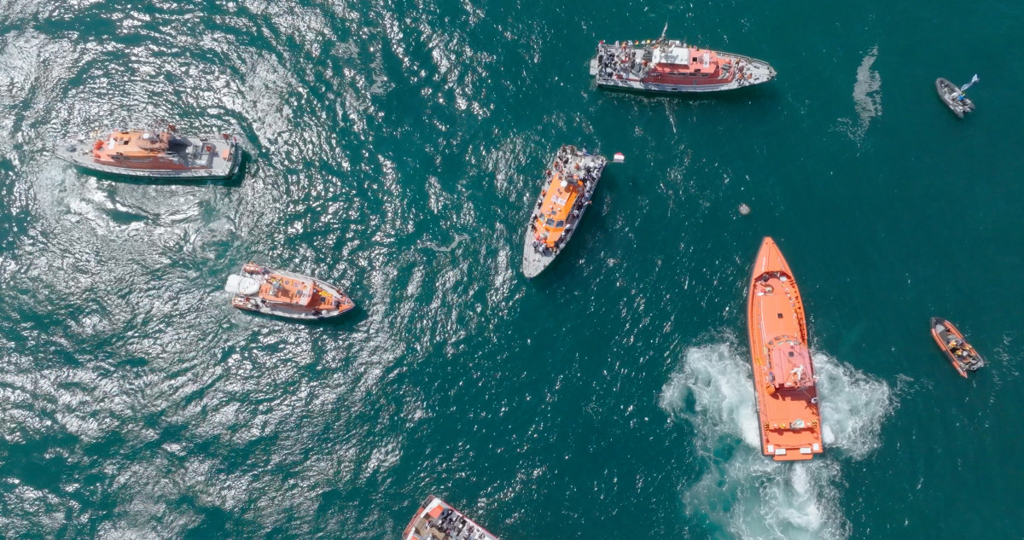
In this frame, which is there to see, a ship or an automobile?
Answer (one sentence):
This aerial view contains a ship.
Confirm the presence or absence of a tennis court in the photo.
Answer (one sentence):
No, this view has no tennis court in it.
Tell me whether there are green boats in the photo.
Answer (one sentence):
No, the frame has no green boat in it.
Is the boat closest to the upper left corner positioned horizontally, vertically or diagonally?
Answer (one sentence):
The boat closest to the upper left corner runs horizontally in the image.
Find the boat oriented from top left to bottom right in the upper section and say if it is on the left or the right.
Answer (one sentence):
The boat oriented from top left to bottom right in the upper section sits on the right side.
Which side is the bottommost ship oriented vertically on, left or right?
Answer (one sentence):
The bottommost ship oriented vertically is on the right side of the image.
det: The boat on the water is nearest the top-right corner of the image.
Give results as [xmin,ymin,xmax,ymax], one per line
[935,76,977,121]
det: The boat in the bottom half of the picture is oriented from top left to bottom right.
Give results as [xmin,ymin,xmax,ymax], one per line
[927,318,988,381]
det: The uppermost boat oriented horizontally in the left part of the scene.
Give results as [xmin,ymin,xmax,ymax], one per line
[56,122,245,179]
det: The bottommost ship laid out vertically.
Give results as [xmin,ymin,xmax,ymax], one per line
[746,236,831,464]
